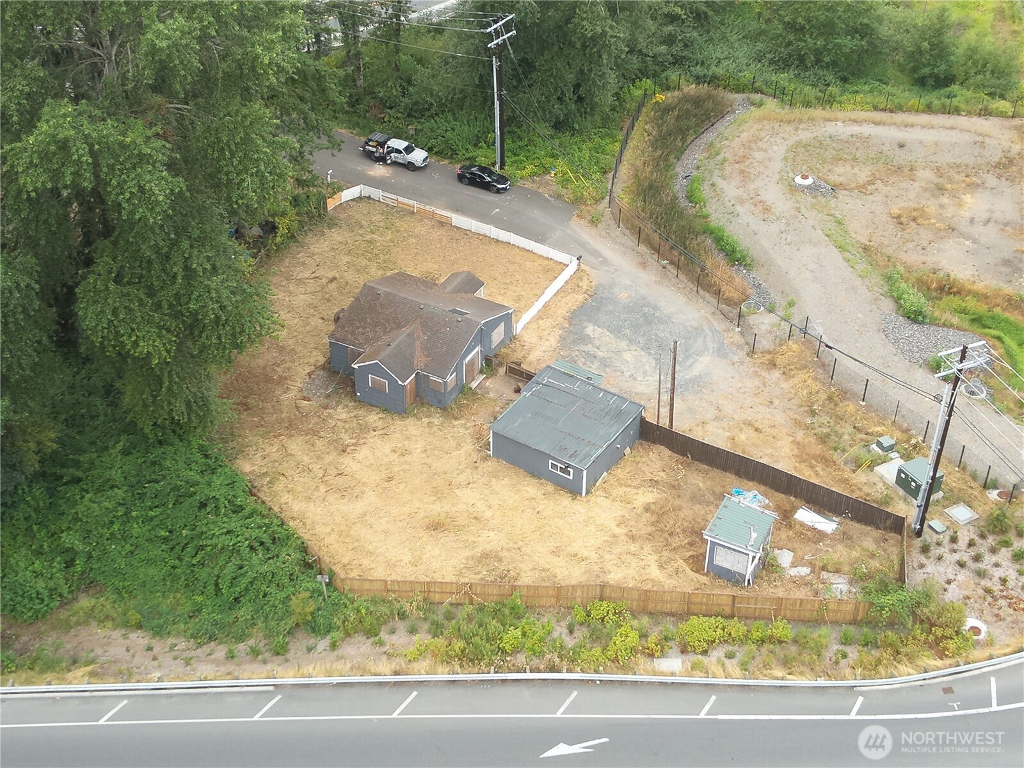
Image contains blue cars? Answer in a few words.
No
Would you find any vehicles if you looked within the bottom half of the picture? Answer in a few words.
No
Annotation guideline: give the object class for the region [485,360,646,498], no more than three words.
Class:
building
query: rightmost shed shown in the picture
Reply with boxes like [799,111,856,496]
[699,498,788,587]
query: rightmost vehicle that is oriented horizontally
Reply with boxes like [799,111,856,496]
[456,163,515,193]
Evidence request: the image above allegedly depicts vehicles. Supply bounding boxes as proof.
[359,136,435,171]
[456,163,515,193]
